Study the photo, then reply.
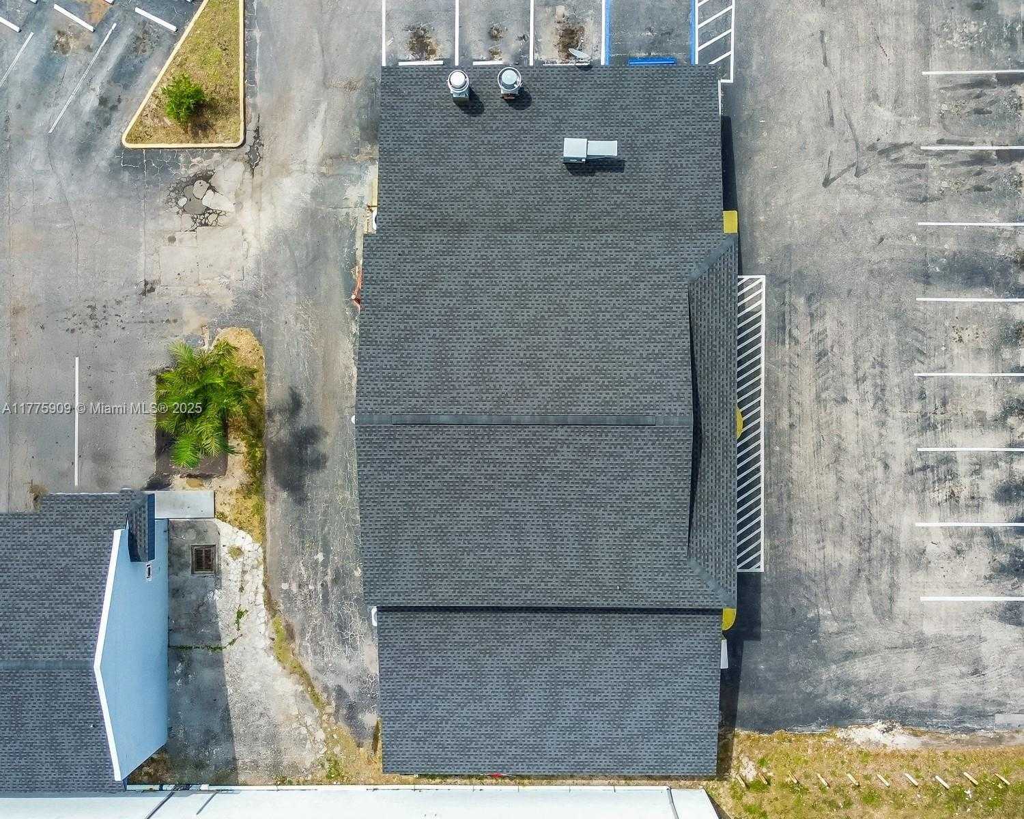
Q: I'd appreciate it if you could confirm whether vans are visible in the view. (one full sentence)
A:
No, the frame has no van in it.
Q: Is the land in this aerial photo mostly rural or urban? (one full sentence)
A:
The area shown here is urban.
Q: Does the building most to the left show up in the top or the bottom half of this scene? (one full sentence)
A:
The building most to the left sits in the bottom half of the picture.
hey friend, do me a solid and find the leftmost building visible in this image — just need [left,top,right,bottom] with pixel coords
[0,492,168,792]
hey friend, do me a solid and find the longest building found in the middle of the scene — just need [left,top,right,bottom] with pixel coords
[356,65,739,776]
